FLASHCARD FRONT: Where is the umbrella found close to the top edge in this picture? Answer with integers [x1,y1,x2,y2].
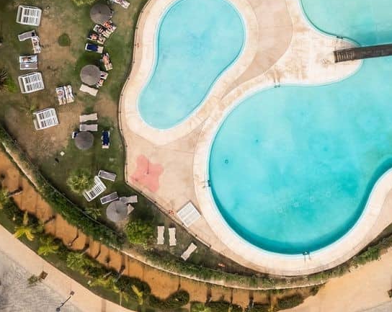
[89,1,112,25]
